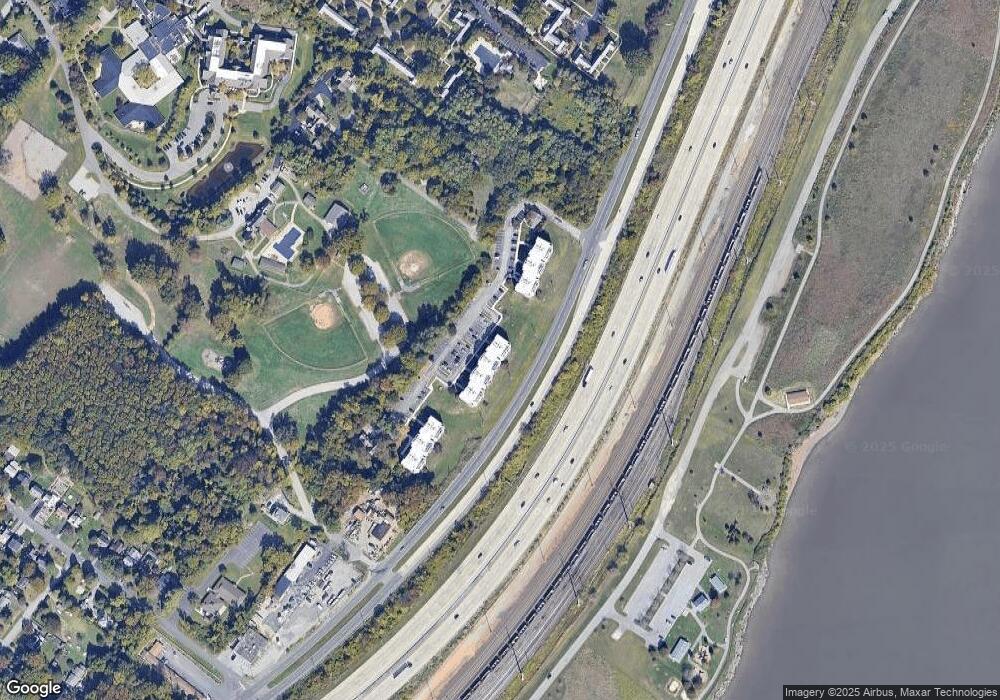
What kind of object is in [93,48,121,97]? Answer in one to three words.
building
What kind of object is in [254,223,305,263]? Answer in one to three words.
swimming pool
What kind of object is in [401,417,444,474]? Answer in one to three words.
building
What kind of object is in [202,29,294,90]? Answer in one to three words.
house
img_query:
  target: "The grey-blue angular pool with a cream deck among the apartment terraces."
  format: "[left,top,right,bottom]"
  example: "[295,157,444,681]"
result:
[466,36,513,78]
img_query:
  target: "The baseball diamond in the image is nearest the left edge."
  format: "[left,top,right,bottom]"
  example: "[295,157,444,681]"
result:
[263,288,367,371]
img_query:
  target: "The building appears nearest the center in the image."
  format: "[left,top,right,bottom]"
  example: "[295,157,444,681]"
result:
[460,336,511,407]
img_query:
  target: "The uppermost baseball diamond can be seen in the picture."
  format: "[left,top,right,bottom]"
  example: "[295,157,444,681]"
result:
[373,210,475,292]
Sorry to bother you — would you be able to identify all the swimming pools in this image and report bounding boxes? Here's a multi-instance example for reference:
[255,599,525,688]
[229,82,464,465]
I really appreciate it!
[254,223,305,263]
[466,36,513,78]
